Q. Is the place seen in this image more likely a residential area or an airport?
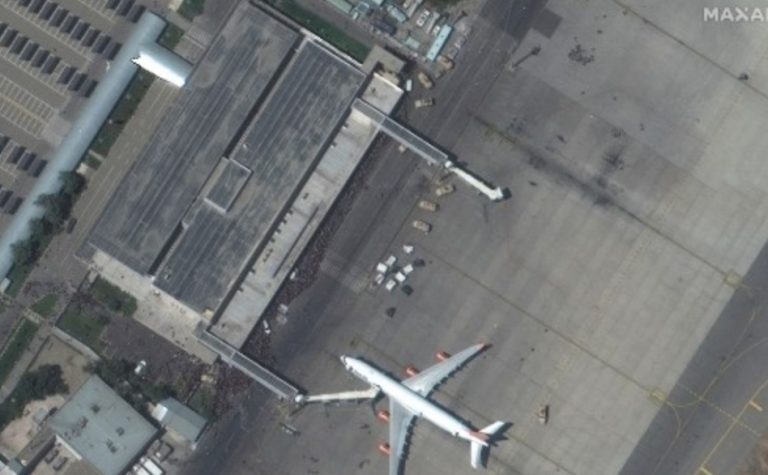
airport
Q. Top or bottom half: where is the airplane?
bottom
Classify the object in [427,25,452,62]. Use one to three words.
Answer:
bus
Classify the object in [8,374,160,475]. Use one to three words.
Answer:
building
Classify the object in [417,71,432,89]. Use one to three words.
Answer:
vehicle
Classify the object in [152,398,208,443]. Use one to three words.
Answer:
shed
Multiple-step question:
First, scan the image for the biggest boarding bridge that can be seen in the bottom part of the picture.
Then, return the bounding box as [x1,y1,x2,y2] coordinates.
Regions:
[196,326,294,401]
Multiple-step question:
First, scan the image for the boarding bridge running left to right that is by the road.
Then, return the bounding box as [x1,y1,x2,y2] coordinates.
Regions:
[294,386,382,407]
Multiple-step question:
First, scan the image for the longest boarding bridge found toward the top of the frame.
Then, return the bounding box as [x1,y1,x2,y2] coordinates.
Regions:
[353,101,446,169]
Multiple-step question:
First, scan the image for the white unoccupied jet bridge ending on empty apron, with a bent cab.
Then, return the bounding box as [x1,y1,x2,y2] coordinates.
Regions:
[443,160,503,201]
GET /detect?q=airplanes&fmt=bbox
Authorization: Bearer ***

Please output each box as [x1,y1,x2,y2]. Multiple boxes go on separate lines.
[340,345,504,475]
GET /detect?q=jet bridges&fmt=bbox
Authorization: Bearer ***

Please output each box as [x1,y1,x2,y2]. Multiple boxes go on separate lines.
[294,386,382,407]
[443,160,503,201]
[353,101,446,169]
[196,326,294,401]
